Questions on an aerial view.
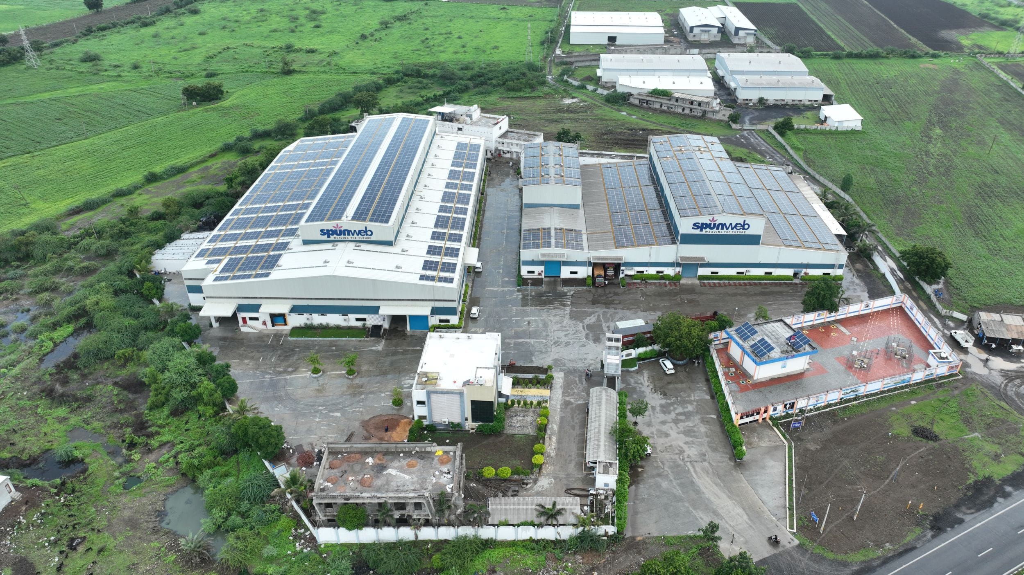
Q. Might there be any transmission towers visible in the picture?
Yes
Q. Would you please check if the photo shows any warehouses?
Yes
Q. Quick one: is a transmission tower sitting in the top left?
Yes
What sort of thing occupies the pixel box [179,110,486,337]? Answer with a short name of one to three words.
warehouse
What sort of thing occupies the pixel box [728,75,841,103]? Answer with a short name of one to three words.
shed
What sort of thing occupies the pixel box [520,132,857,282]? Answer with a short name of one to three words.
building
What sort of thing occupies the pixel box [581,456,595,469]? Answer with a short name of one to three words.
vehicle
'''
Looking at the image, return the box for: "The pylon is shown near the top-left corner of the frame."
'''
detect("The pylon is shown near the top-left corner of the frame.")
[6,8,43,69]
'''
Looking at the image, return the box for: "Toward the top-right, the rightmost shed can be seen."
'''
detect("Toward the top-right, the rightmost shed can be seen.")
[819,105,864,131]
